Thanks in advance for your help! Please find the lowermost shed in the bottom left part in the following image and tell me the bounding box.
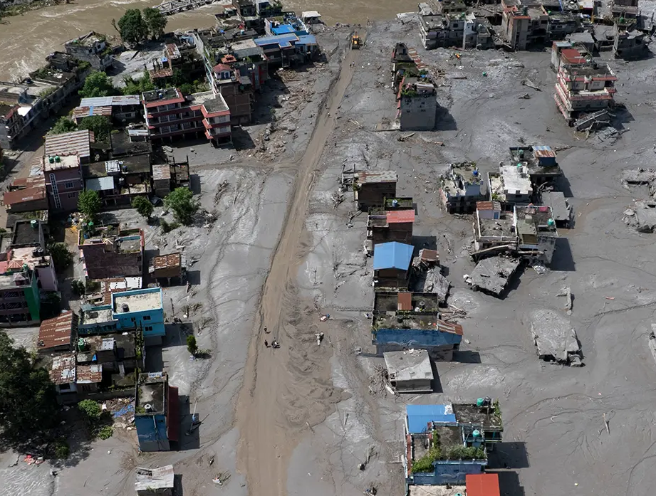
[136,464,177,496]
